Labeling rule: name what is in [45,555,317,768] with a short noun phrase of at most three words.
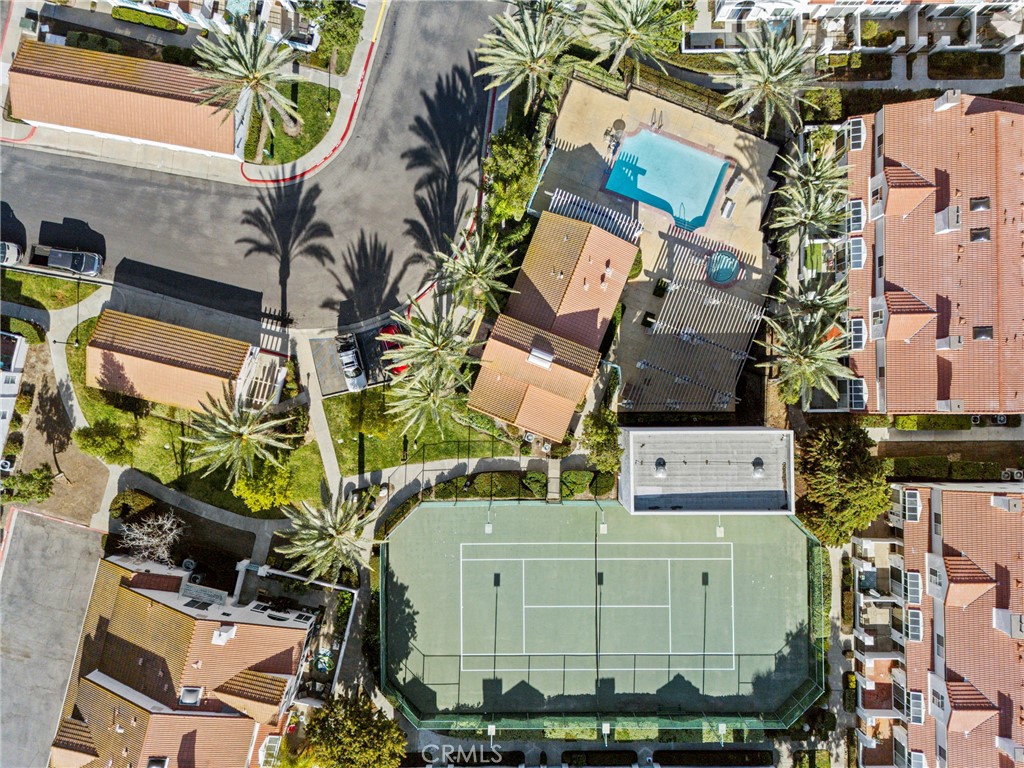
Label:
building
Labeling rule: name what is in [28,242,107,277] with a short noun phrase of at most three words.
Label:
truck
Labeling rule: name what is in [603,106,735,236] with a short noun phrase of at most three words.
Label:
swimming pool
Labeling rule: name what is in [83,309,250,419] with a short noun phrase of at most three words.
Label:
building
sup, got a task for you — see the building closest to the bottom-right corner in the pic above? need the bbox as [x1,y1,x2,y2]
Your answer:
[890,484,1024,768]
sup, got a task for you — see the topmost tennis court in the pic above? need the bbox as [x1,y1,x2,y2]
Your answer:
[387,500,809,713]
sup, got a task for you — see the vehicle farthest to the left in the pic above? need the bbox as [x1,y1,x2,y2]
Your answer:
[0,236,23,265]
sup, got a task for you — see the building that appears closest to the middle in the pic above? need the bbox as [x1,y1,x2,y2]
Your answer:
[467,211,638,439]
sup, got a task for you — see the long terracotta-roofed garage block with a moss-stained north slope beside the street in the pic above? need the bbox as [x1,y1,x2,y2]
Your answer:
[9,40,246,159]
